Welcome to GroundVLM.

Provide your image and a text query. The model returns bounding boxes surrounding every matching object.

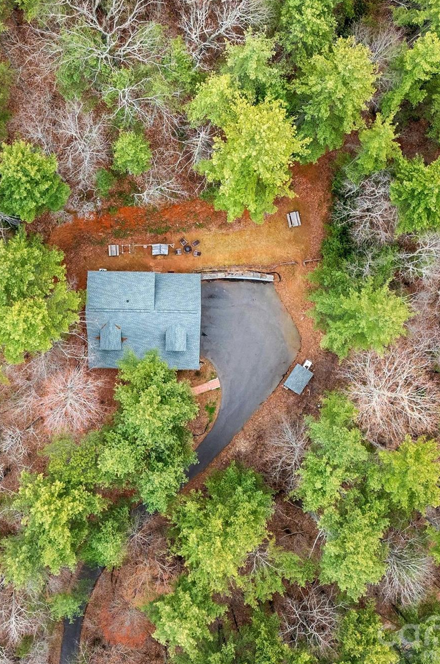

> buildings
[283,363,313,395]
[86,271,201,371]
